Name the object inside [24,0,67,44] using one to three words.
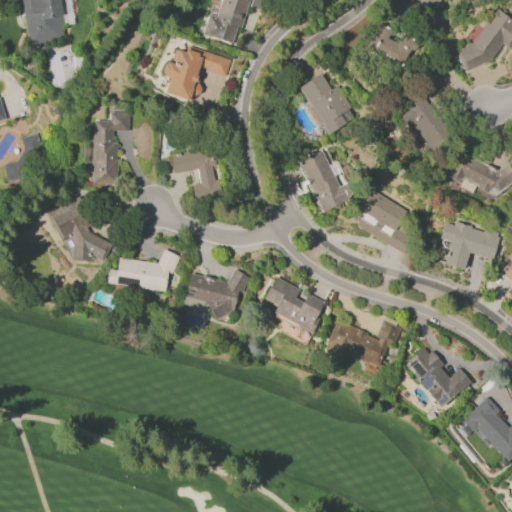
house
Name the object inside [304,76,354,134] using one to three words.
house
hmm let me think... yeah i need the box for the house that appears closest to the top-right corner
[460,11,512,68]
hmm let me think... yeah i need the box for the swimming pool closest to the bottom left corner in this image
[92,290,114,308]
